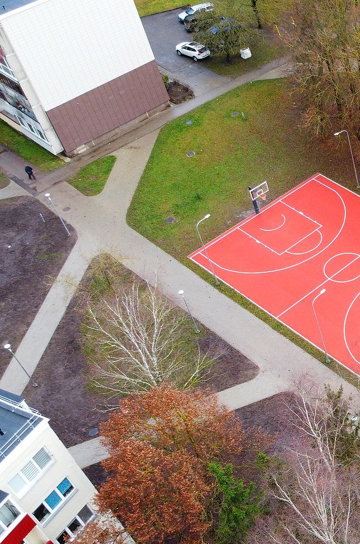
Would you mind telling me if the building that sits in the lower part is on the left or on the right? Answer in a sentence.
You can find the building that sits in the lower part on the left side of the picture.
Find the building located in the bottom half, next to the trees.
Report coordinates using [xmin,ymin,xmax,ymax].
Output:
[0,389,136,544]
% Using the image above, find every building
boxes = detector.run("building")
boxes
[0,0,174,160]
[0,389,136,544]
